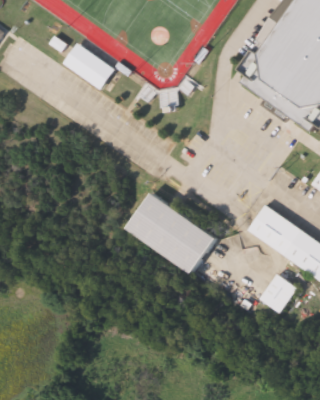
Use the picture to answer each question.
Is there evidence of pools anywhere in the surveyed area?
No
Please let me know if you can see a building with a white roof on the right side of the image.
Yes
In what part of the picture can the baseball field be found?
top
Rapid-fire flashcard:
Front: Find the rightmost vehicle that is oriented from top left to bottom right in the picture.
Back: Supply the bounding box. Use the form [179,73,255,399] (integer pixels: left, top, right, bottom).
[280,268,295,280]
